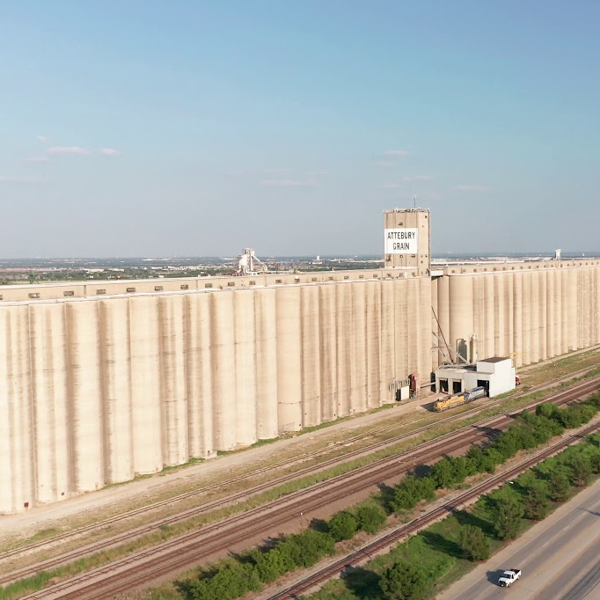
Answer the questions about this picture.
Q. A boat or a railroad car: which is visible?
railroad car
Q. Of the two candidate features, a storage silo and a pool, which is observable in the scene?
storage silo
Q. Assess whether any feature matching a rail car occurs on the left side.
No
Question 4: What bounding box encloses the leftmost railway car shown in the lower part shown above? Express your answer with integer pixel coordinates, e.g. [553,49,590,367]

[434,391,467,410]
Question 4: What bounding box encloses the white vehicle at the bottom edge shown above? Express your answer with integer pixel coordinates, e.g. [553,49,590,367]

[499,567,521,586]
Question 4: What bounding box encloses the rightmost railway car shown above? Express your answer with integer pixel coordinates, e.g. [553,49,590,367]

[464,385,488,401]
